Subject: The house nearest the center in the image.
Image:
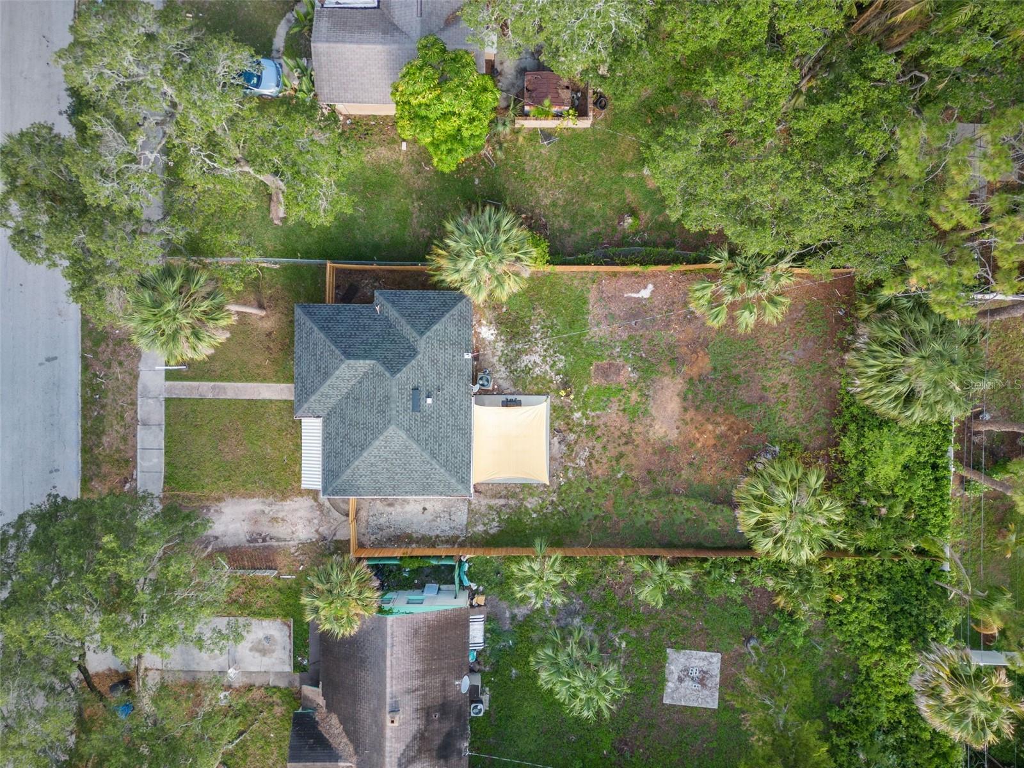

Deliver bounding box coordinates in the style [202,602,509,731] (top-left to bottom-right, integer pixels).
[293,289,476,502]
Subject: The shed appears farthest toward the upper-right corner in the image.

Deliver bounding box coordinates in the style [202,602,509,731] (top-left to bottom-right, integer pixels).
[524,71,572,117]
